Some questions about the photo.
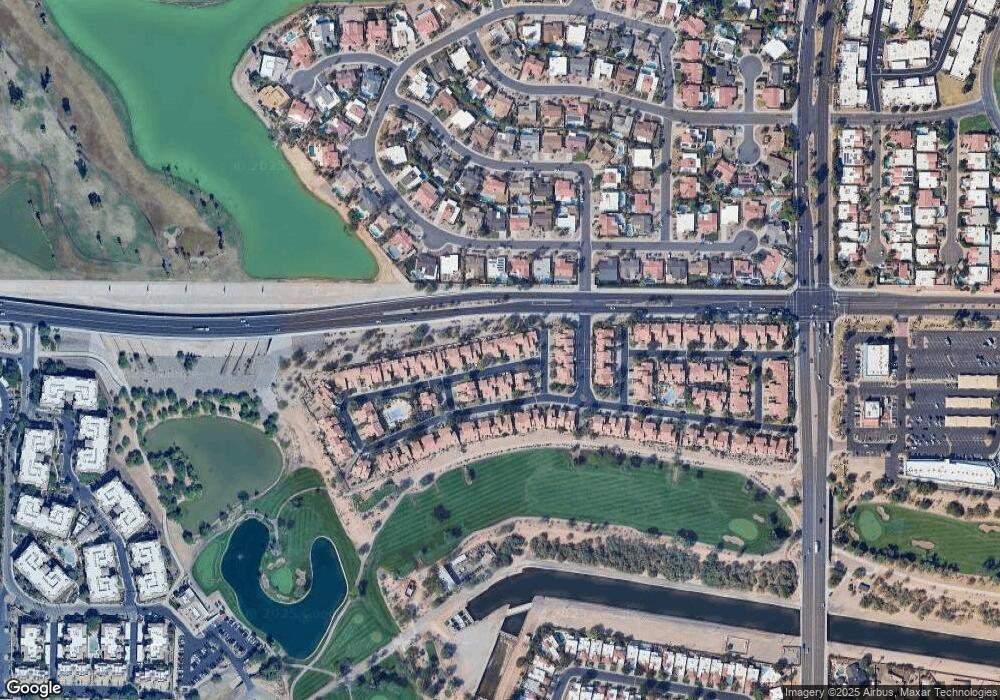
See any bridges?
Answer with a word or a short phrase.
Yes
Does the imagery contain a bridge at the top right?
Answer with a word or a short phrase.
No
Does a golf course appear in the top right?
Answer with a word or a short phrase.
No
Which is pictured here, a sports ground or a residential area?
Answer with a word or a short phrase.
residential area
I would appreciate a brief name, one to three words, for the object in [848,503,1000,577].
golf course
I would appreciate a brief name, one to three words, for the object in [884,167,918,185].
house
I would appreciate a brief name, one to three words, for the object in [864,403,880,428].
building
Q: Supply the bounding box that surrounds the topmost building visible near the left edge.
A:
[38,375,98,411]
